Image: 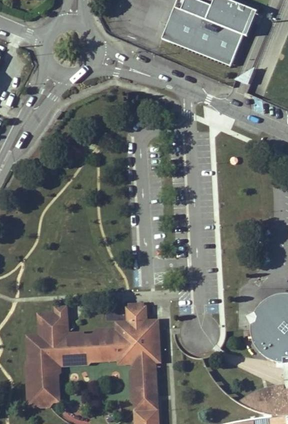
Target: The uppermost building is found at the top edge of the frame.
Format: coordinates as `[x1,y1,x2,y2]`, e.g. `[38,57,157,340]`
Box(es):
[162,0,257,68]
